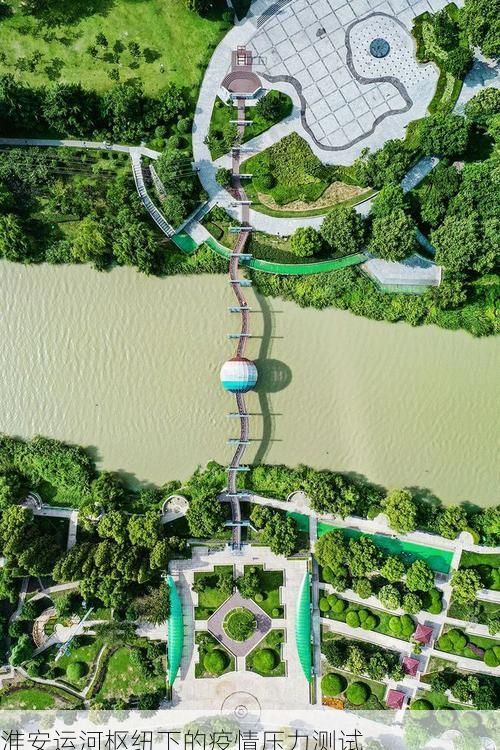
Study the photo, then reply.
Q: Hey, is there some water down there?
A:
Yes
